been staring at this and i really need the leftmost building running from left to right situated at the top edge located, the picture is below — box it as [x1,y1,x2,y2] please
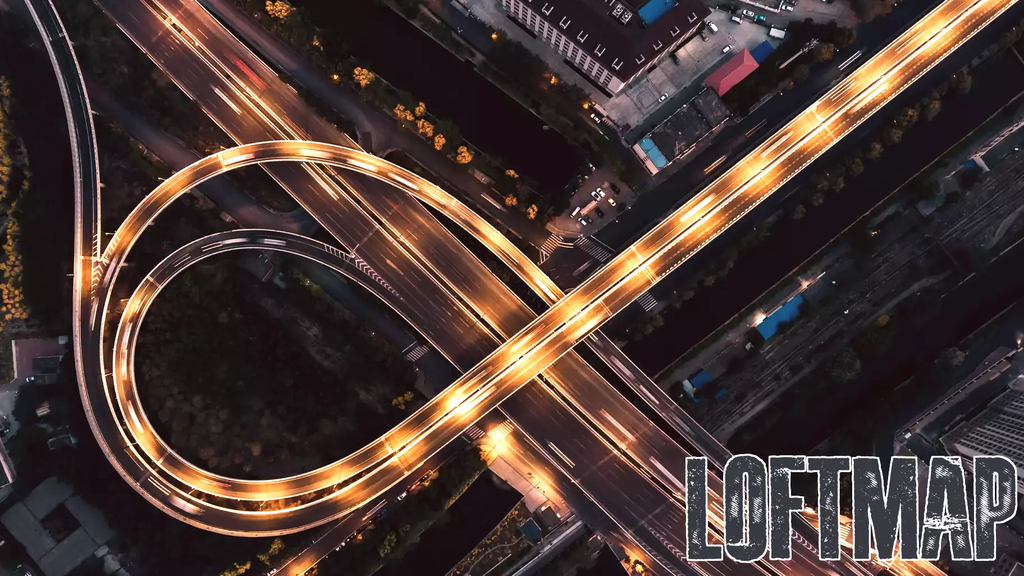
[502,0,713,93]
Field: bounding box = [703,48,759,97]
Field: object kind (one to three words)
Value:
house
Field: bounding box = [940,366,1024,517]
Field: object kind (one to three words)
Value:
building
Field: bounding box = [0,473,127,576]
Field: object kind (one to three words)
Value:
house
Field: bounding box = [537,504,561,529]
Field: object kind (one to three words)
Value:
building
